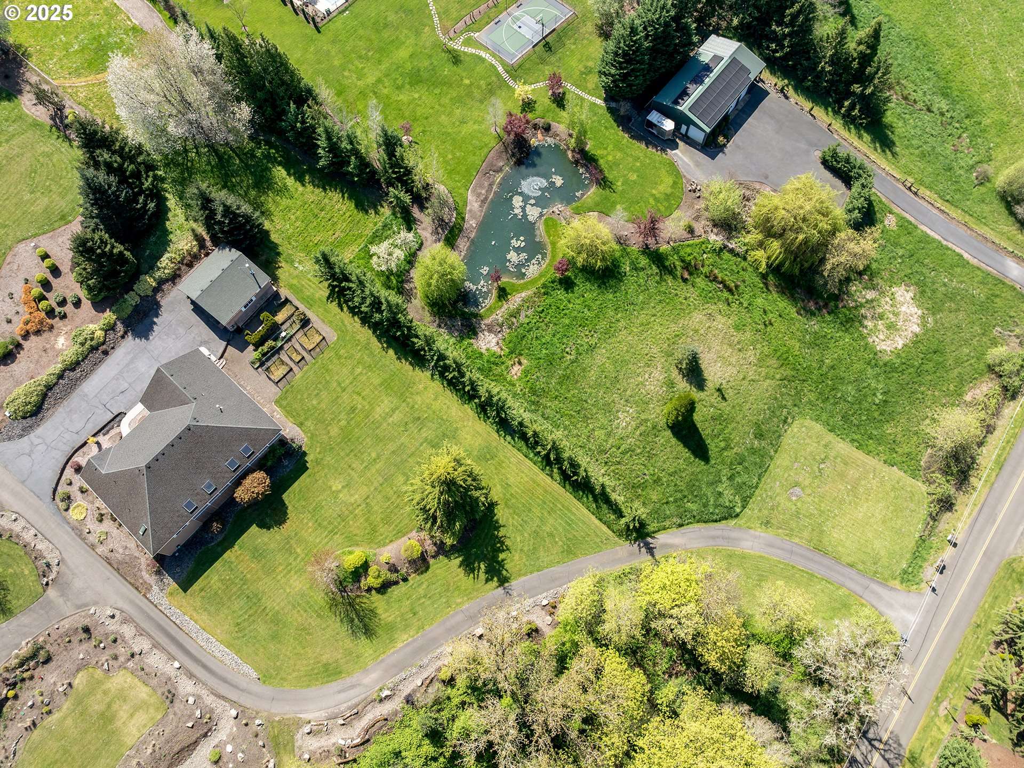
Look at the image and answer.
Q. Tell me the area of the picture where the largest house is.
left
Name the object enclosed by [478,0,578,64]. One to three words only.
sports court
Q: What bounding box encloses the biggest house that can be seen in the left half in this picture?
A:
[78,343,290,557]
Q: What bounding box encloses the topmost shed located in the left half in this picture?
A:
[181,241,279,327]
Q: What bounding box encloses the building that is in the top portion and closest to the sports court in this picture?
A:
[656,29,766,143]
